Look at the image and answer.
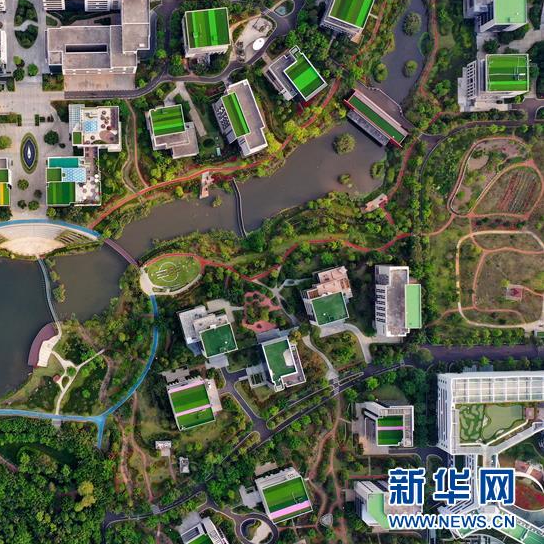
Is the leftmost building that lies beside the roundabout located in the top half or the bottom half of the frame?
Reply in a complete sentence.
Seen from above, the leftmost building that lies beside the roundabout lies in the bottom half of the view.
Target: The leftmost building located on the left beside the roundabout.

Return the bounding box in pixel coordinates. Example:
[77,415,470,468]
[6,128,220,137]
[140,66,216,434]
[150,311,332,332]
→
[180,511,230,544]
